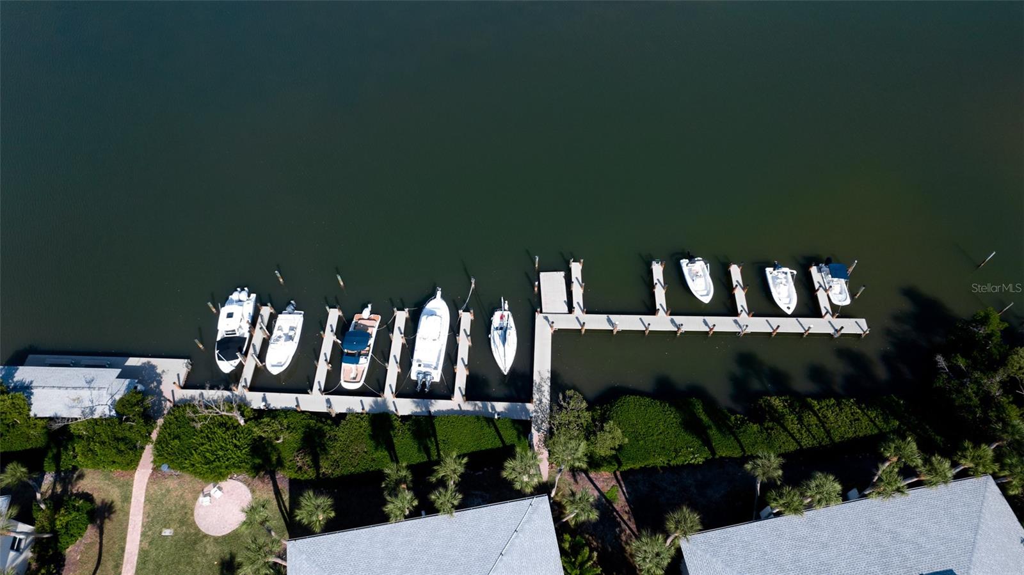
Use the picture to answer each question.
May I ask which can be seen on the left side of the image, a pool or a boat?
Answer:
boat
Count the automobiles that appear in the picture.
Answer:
0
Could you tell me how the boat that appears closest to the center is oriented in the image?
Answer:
vertically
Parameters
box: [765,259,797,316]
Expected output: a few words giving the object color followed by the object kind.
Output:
white boat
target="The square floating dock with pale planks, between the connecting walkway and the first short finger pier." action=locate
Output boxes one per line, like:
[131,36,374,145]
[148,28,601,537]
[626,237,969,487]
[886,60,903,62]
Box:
[540,272,568,313]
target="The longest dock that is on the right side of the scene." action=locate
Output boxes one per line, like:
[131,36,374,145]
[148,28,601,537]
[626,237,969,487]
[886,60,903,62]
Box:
[531,258,870,432]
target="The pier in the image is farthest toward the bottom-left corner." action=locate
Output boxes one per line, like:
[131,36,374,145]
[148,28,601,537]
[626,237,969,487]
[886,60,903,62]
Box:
[170,303,533,421]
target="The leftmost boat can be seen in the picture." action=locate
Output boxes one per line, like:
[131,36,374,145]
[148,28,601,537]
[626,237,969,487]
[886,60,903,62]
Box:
[217,288,256,376]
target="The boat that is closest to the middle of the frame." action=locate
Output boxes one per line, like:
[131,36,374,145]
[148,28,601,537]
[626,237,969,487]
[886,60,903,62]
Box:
[489,299,520,377]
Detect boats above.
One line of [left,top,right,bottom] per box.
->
[217,288,256,376]
[489,299,520,377]
[765,259,797,316]
[268,300,306,377]
[409,287,452,399]
[343,304,380,390]
[821,257,855,307]
[680,251,712,305]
